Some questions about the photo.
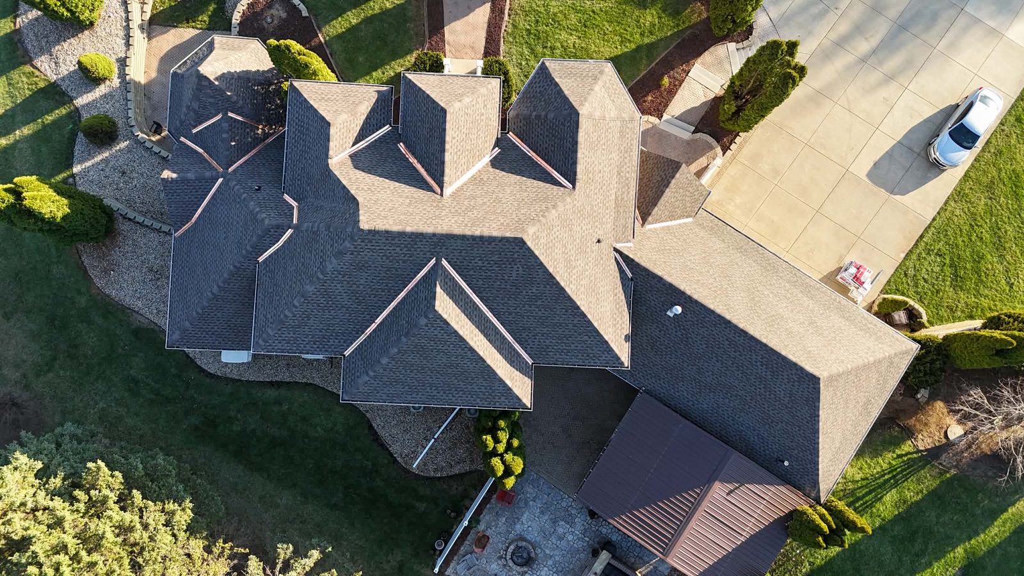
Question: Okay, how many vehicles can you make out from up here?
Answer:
1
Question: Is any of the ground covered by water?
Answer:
No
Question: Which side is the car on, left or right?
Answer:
right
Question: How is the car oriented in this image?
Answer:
at an angle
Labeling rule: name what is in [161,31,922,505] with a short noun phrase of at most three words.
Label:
house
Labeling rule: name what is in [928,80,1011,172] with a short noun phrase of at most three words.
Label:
car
